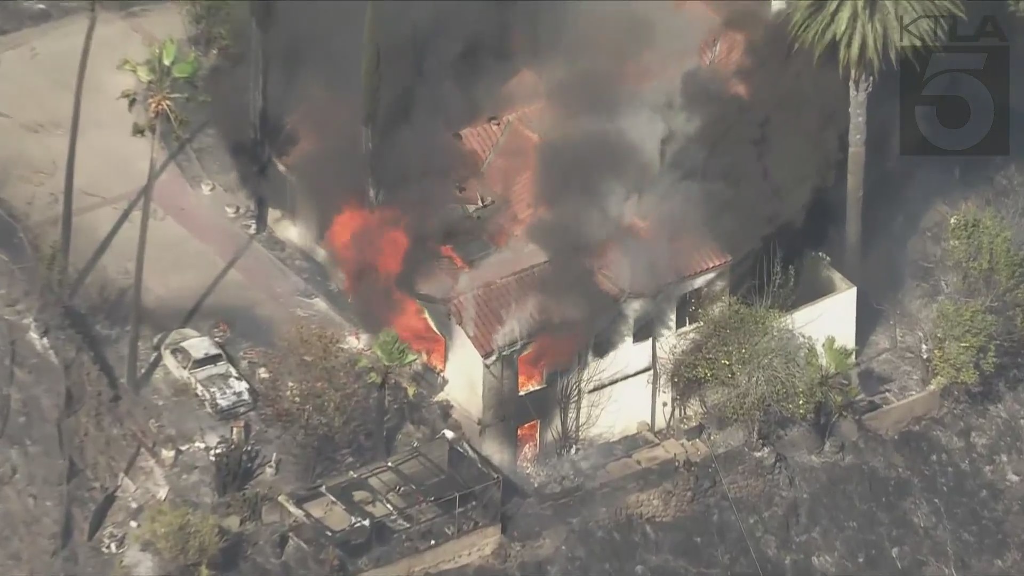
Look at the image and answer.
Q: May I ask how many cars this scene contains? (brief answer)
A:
1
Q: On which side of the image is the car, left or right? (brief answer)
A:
left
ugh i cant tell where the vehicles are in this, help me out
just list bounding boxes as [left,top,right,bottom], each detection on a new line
[158,321,256,420]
